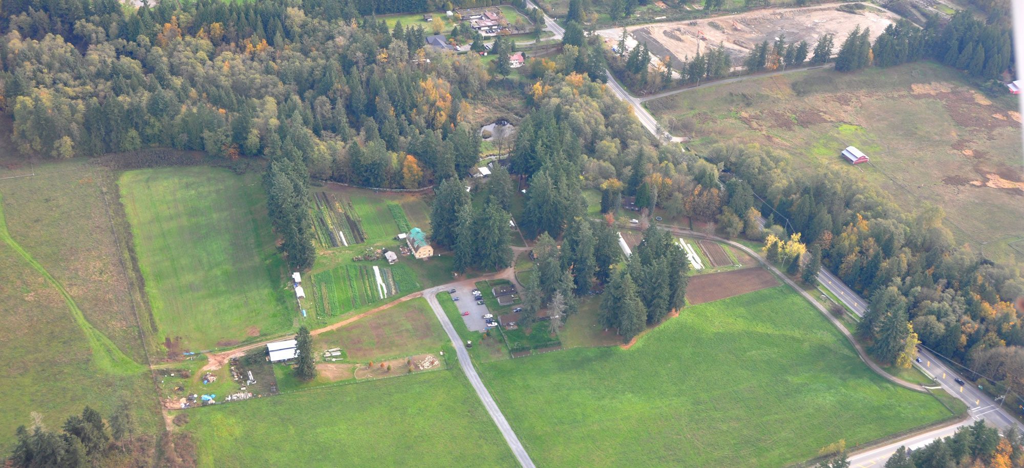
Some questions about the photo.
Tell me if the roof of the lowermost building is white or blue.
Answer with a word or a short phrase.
white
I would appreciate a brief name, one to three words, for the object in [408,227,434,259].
barn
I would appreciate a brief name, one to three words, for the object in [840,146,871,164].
barn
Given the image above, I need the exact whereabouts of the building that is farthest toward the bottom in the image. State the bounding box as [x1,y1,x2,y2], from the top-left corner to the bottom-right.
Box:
[266,337,301,364]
